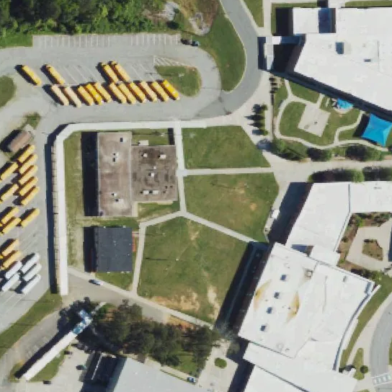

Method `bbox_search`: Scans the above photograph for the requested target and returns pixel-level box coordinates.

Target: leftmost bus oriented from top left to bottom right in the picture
[19,65,41,86]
